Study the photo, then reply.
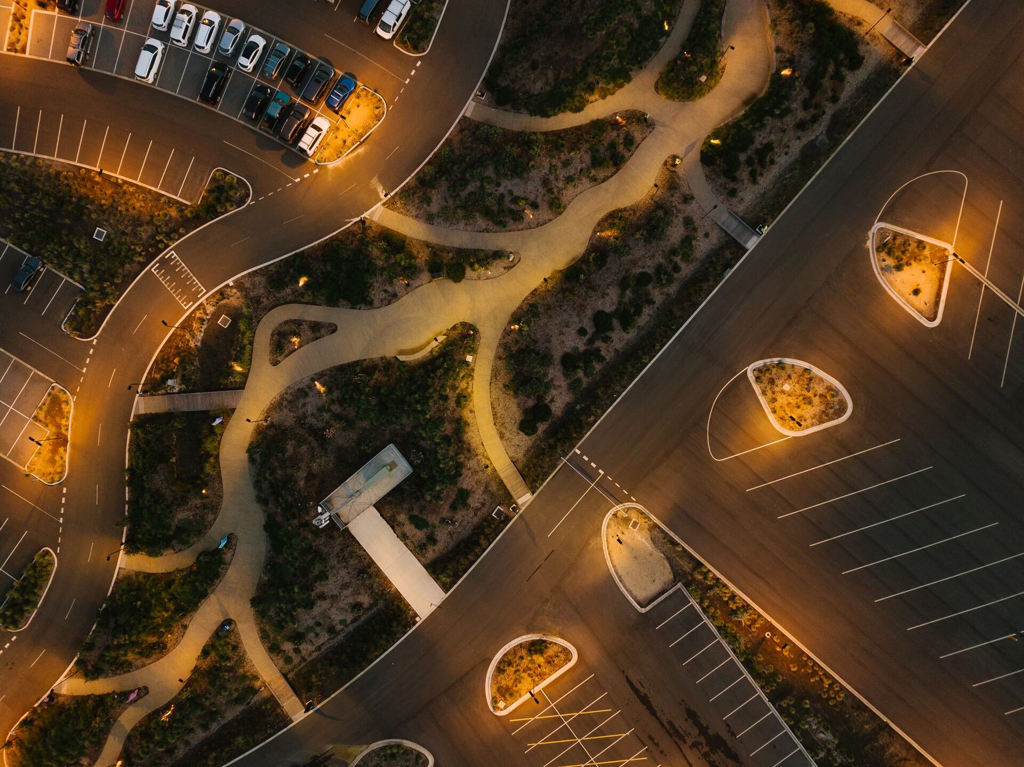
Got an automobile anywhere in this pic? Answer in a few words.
Yes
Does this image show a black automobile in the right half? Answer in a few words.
No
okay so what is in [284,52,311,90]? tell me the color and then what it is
black car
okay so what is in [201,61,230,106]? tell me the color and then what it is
black car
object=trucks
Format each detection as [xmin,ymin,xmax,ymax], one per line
[66,21,96,68]
[261,90,291,133]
